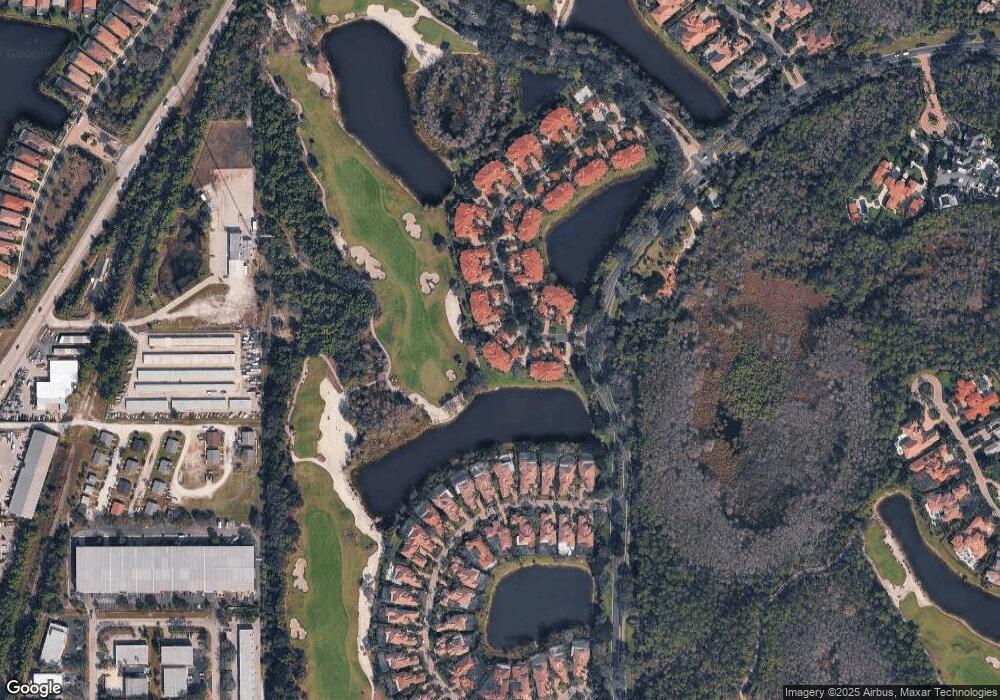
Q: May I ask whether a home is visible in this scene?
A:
Yes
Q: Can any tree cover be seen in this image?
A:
Yes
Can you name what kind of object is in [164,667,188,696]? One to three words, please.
building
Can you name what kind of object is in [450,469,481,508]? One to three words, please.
house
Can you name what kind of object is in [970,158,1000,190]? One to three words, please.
house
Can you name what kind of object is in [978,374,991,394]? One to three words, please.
swimming pool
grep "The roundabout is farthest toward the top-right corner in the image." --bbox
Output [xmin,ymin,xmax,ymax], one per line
[919,53,946,135]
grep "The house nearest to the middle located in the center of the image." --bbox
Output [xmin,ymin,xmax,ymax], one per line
[479,333,524,375]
